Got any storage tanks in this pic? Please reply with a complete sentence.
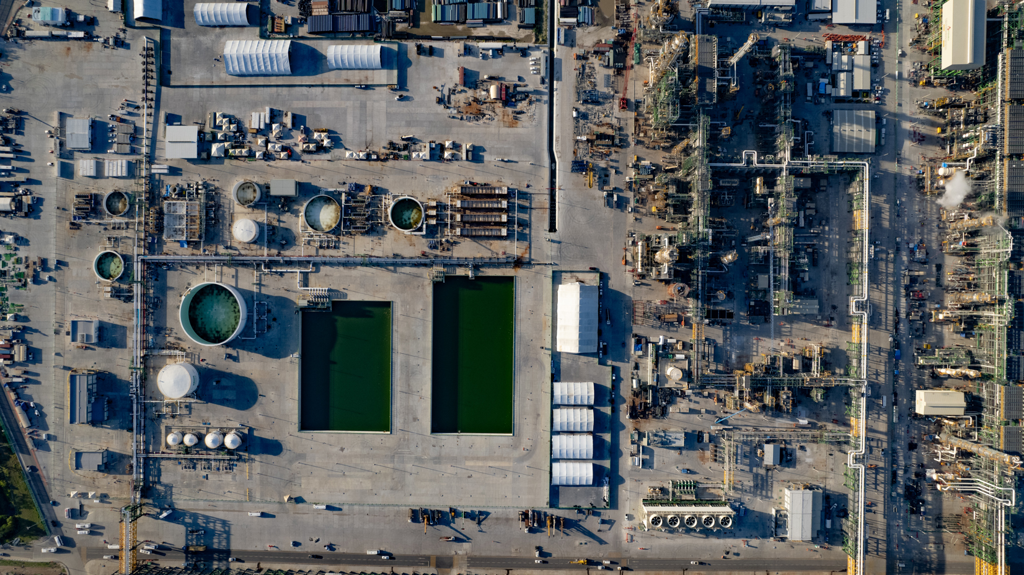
Yes, a storage tank appears in the view.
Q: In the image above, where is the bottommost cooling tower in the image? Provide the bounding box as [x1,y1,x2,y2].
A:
[641,502,737,530]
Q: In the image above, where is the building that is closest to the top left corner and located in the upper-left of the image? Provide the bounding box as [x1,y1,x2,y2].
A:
[32,7,70,27]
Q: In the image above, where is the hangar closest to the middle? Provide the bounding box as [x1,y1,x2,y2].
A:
[553,382,595,405]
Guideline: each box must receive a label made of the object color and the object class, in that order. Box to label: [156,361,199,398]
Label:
white storage tank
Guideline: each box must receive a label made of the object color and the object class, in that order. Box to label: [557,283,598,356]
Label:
white tent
